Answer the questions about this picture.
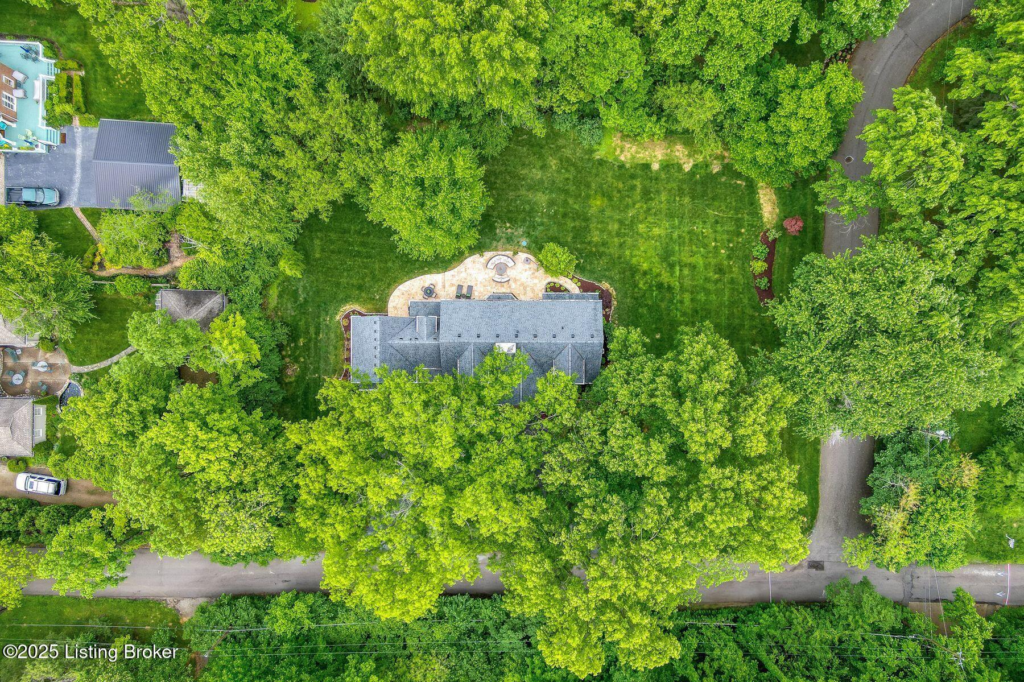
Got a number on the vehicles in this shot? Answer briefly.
2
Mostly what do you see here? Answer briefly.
trees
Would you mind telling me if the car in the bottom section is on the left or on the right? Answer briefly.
left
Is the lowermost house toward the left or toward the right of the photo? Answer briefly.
left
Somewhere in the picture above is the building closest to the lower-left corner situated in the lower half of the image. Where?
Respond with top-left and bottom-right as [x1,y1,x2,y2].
[0,397,46,456]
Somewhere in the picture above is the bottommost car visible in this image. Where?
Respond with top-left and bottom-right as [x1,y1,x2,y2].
[16,471,70,497]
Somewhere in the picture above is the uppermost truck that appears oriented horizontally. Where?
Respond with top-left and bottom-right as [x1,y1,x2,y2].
[5,185,61,208]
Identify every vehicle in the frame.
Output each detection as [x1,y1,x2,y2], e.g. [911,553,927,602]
[5,185,61,208]
[16,471,70,497]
